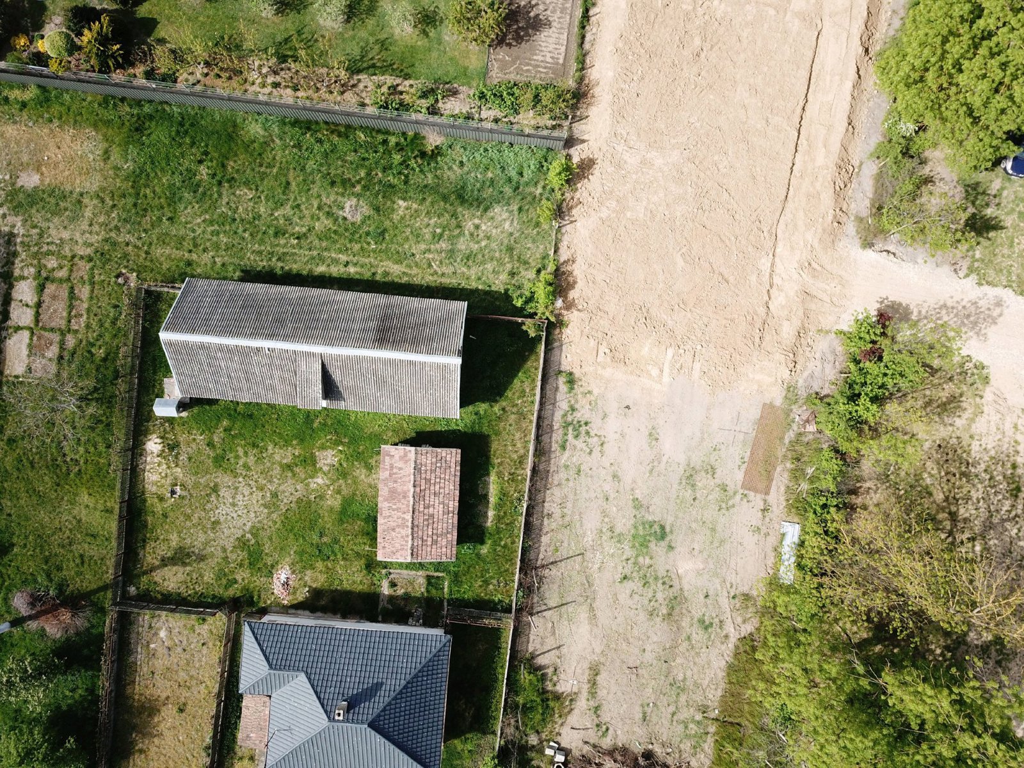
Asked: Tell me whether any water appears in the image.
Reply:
No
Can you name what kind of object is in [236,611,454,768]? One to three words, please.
house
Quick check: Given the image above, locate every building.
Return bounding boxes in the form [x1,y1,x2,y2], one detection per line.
[365,444,461,564]
[236,611,454,768]
[156,276,469,420]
